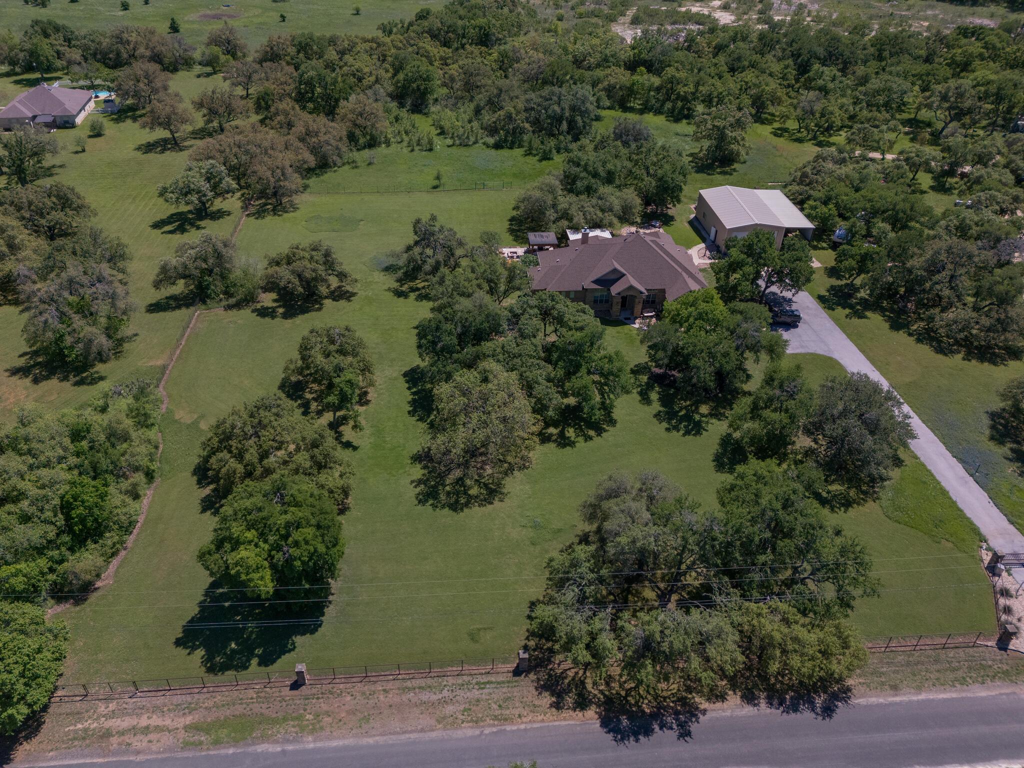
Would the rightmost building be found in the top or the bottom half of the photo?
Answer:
top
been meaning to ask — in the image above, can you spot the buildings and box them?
[0,81,93,132]
[697,186,816,253]
[527,225,707,323]
[102,97,122,111]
